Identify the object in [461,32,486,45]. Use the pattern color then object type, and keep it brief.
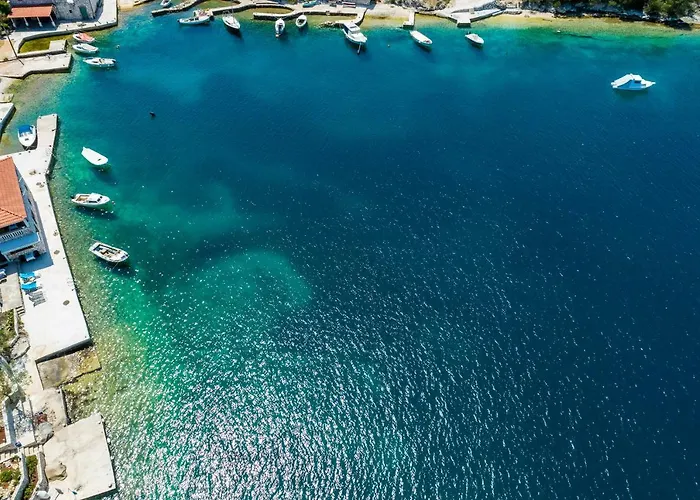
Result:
white boat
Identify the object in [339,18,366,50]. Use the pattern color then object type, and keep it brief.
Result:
white boat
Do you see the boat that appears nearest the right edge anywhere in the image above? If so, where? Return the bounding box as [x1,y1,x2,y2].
[607,73,667,91]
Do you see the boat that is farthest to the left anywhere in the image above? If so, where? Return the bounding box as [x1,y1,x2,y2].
[16,121,35,146]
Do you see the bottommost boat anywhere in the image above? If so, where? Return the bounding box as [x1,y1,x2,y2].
[88,232,129,270]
